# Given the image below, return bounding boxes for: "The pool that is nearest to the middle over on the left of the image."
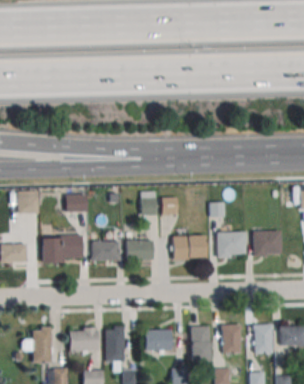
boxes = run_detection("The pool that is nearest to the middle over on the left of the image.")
[95,214,109,228]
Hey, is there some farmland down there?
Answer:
No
